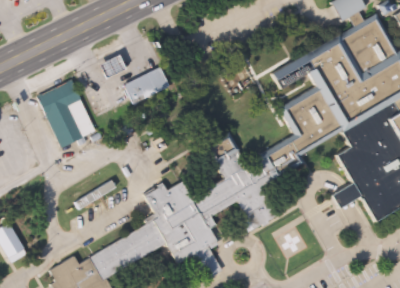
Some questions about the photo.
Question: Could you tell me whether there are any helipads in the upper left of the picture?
No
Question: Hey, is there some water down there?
No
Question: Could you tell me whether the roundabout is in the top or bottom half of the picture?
bottom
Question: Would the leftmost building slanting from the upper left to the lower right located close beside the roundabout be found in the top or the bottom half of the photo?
bottom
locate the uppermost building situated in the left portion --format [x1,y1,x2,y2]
[123,68,169,104]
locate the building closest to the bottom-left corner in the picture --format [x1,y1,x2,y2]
[0,228,26,262]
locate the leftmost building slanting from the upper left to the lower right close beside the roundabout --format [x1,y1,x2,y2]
[142,182,222,277]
